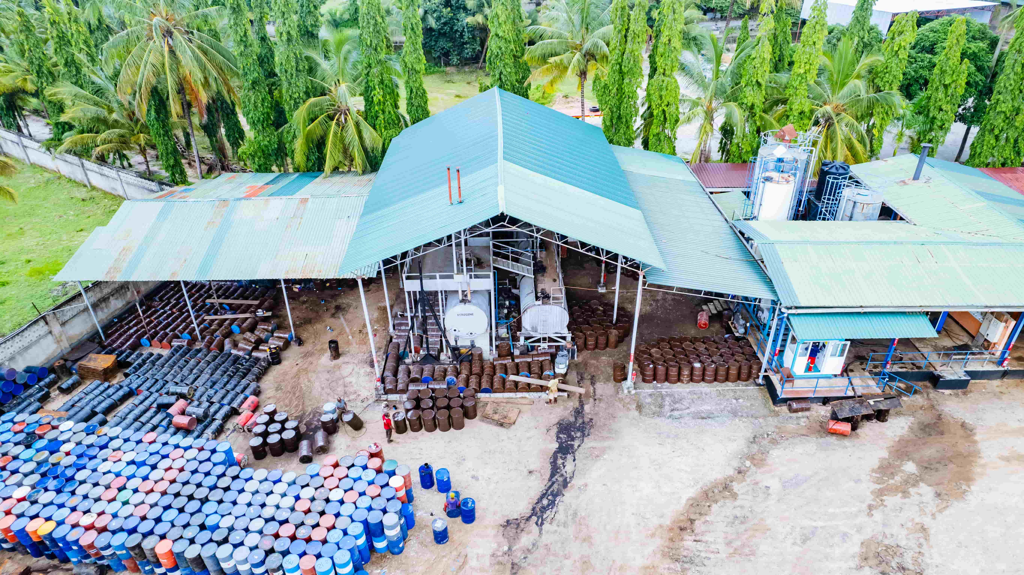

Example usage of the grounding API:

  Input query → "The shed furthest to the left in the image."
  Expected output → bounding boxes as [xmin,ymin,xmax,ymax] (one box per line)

[54,171,393,341]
